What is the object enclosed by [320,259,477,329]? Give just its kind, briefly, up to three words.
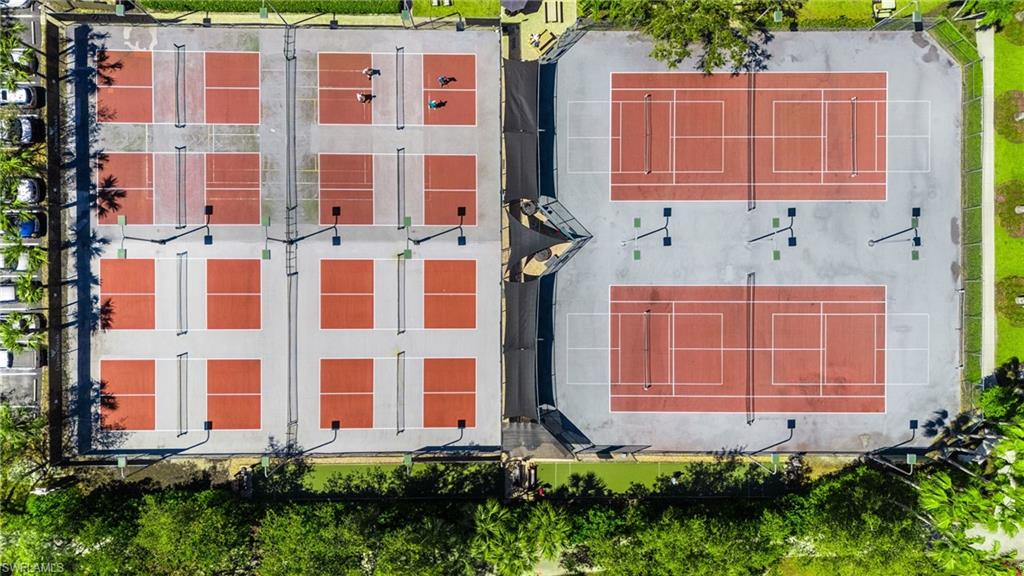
sports court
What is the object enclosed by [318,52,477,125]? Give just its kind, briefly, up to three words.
sports court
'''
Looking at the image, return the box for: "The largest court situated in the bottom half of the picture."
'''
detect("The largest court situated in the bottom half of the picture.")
[567,285,929,413]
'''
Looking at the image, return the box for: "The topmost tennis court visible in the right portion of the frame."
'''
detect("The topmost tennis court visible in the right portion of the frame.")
[567,72,931,202]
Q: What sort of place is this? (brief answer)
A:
sports ground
